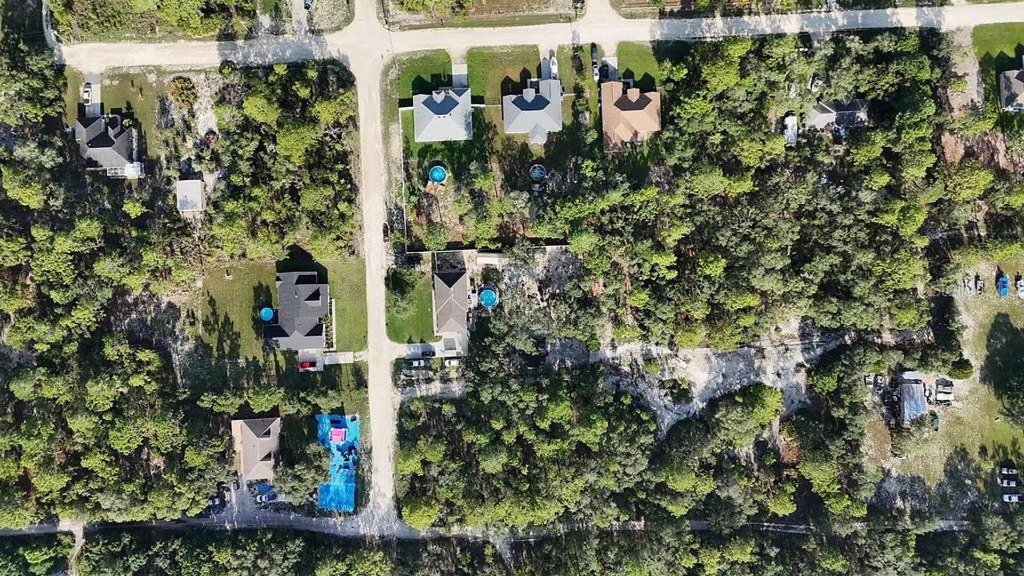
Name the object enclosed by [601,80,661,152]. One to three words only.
house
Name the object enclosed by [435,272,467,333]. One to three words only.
house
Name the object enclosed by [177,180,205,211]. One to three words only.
shed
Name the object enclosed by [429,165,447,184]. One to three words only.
swimming pool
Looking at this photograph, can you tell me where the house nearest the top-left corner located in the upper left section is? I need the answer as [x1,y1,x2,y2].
[75,116,137,168]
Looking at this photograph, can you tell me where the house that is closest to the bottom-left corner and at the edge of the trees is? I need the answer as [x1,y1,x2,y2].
[240,418,282,480]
